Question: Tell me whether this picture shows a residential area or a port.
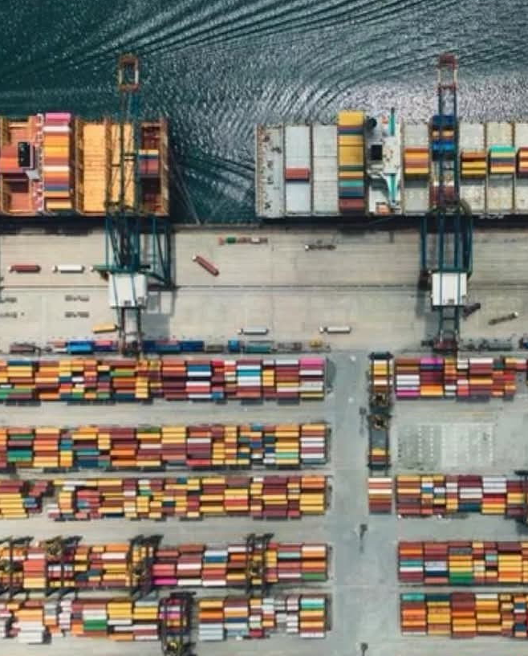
port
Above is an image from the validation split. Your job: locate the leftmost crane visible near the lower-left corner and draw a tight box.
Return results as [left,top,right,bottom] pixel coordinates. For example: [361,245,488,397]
[0,529,33,598]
